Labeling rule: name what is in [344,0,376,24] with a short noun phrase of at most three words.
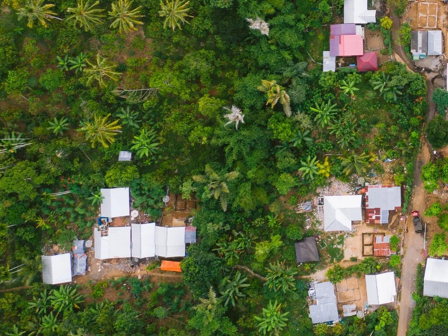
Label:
house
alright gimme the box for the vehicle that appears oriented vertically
[409,209,423,234]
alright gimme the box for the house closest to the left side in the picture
[42,253,76,283]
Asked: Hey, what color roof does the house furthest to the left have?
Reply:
white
